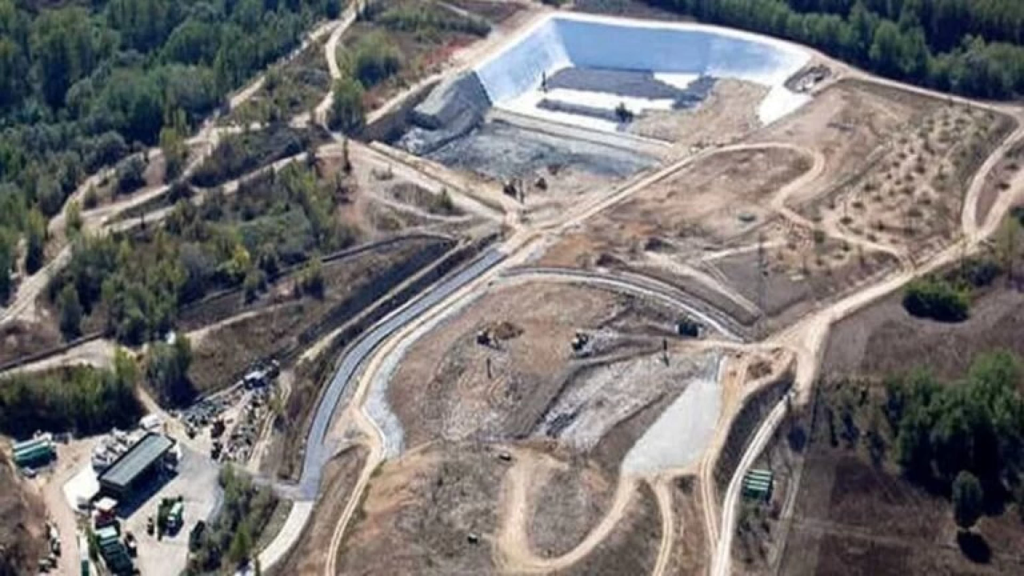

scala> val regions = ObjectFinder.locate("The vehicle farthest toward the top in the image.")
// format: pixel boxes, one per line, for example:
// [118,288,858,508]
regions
[617,103,632,121]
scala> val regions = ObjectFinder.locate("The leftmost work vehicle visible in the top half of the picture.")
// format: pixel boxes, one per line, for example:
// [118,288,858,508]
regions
[530,178,550,190]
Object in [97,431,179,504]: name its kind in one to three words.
shed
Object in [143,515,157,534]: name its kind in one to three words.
work vehicle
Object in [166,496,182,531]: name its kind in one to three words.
vehicle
